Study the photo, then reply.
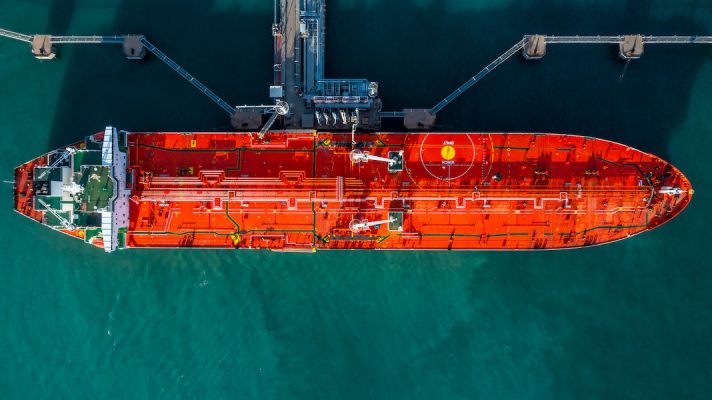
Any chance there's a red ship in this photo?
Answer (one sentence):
Yes, a red ship is visible in the scene.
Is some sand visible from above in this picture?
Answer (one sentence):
No, the scene doesn't show any sand.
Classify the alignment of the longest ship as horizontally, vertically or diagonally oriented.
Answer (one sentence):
From this overhead view, the longest ship appears to run horizontally.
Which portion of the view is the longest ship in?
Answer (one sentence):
Look in the center portion of the view to spot the longest ship.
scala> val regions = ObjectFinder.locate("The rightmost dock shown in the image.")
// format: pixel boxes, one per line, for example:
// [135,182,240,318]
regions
[273,0,382,132]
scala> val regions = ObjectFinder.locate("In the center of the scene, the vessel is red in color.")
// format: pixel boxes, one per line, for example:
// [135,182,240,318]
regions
[1,127,696,252]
